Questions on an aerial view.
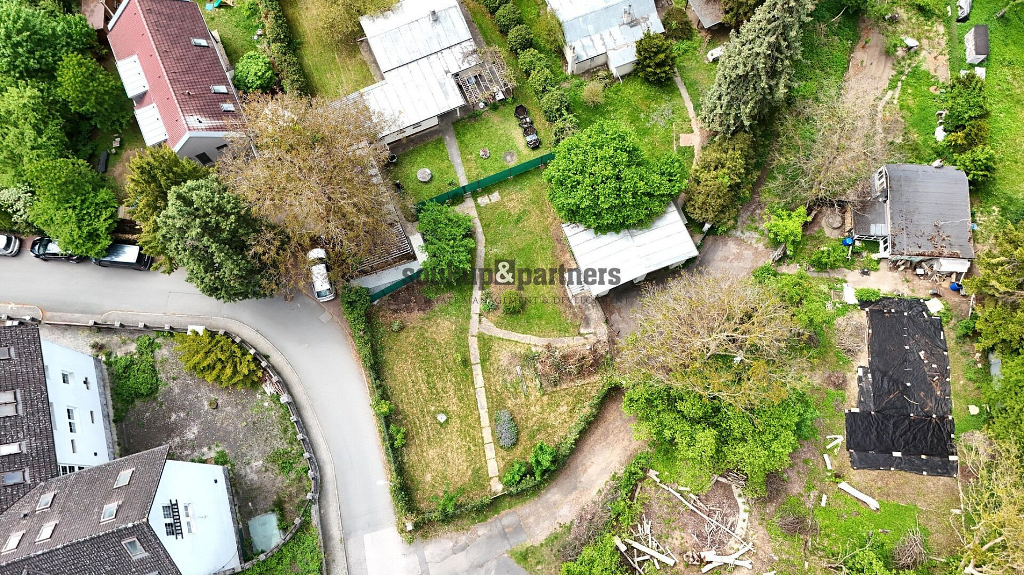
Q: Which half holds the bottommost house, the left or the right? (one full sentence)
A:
The bottommost house is on the left side of the image.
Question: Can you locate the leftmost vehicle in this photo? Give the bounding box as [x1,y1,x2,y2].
[0,236,23,260]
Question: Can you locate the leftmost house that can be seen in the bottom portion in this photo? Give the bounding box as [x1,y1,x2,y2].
[0,329,107,499]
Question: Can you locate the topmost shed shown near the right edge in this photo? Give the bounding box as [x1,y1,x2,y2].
[948,24,988,69]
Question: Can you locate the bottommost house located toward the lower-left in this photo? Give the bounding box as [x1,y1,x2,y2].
[0,450,240,575]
